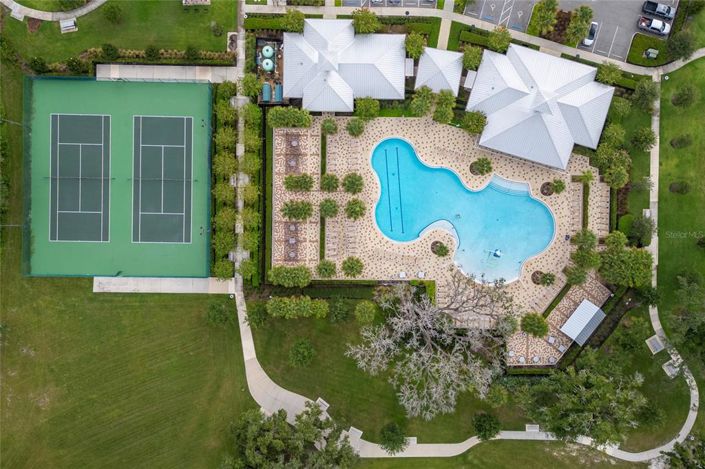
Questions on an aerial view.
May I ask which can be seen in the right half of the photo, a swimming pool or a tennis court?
swimming pool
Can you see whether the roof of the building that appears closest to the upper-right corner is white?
Yes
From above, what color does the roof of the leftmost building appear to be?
white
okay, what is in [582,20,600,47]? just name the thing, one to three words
car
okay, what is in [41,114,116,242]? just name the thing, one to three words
tennis court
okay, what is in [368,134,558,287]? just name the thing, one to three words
swimming pool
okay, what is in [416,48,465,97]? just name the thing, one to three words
building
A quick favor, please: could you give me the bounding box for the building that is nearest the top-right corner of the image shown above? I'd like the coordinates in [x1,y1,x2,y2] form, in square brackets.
[467,39,614,166]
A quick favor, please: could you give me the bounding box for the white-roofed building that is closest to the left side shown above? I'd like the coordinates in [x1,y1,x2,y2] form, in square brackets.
[284,19,406,112]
